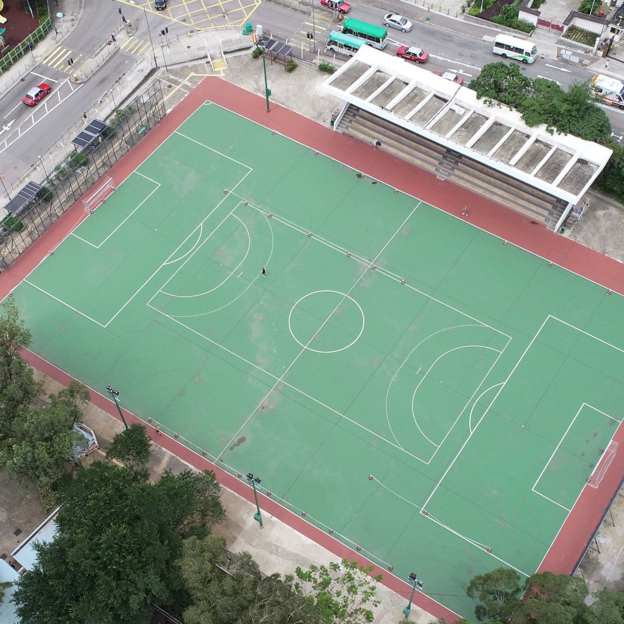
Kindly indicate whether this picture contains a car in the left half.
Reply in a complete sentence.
Yes, a car appears in the left half.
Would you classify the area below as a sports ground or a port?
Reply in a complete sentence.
What you see here is a sports ground.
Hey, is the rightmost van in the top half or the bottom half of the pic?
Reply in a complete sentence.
The rightmost van is in the top half of the image.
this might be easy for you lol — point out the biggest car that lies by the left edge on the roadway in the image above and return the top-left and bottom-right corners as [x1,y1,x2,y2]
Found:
[20,83,55,108]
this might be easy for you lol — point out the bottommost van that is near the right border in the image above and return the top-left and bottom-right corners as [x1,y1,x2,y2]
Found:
[588,74,624,109]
